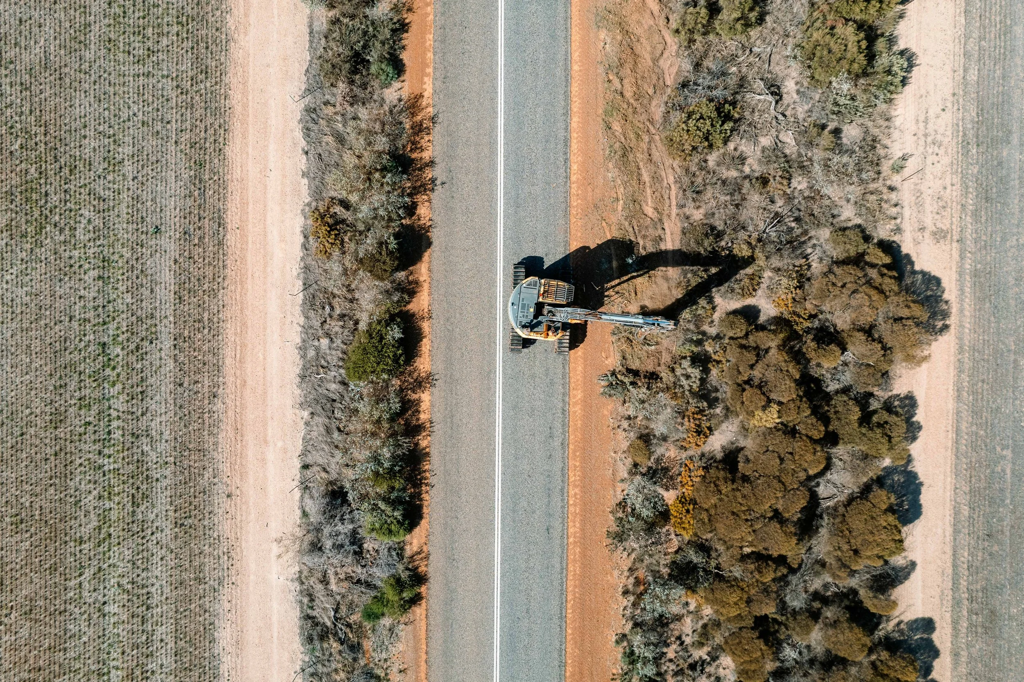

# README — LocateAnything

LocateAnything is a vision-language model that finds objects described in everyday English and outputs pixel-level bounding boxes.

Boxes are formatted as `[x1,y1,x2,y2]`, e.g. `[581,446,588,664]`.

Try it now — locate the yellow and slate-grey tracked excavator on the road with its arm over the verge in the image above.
[508,265,680,354]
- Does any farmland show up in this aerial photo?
Yes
